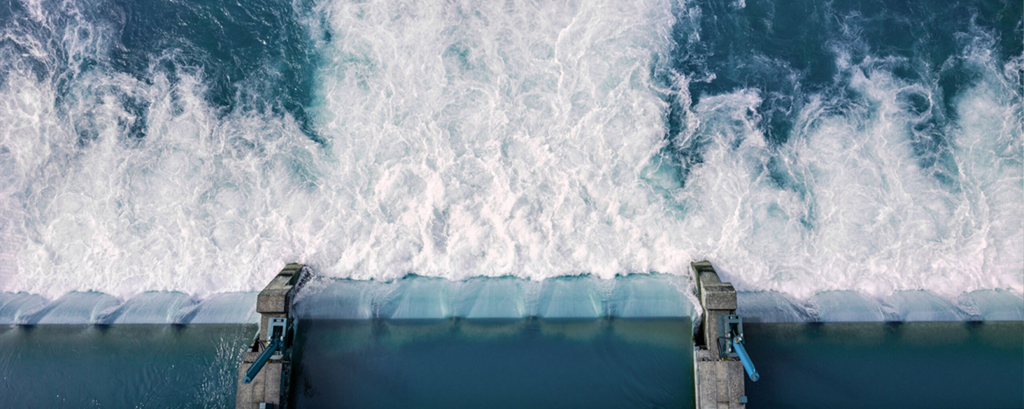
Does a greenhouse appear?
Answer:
No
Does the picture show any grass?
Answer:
No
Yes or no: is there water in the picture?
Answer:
Yes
